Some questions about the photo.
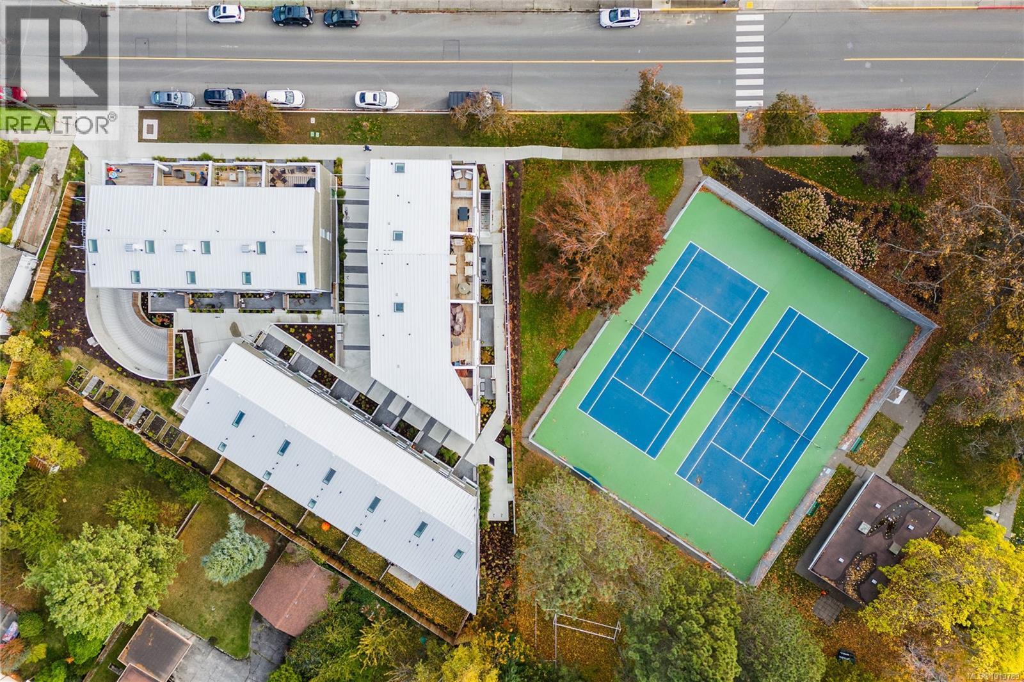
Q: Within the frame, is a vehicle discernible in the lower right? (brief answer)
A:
No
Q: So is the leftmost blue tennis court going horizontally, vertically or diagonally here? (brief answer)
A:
diagonally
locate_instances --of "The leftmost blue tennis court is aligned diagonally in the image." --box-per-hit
[580,241,766,459]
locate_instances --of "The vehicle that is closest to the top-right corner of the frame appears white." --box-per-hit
[599,7,641,29]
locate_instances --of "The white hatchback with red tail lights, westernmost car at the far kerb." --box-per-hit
[209,4,247,25]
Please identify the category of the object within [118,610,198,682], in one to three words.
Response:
building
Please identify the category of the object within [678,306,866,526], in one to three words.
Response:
tennis court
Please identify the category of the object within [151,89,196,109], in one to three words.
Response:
car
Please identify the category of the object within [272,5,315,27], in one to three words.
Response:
car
